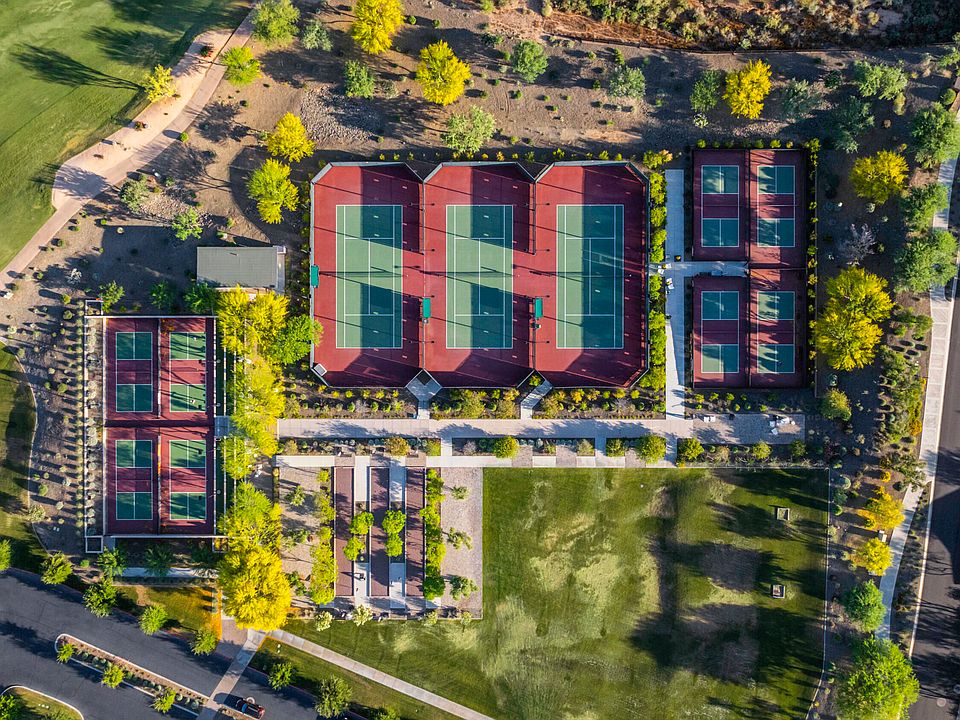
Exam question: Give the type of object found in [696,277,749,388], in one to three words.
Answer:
sports court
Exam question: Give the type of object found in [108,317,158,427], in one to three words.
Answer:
sports court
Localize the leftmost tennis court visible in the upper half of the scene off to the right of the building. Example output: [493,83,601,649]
[314,167,425,387]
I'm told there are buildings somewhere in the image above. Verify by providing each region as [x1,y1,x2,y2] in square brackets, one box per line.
[196,246,286,291]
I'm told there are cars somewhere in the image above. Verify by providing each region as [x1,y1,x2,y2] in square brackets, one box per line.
[236,698,268,720]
